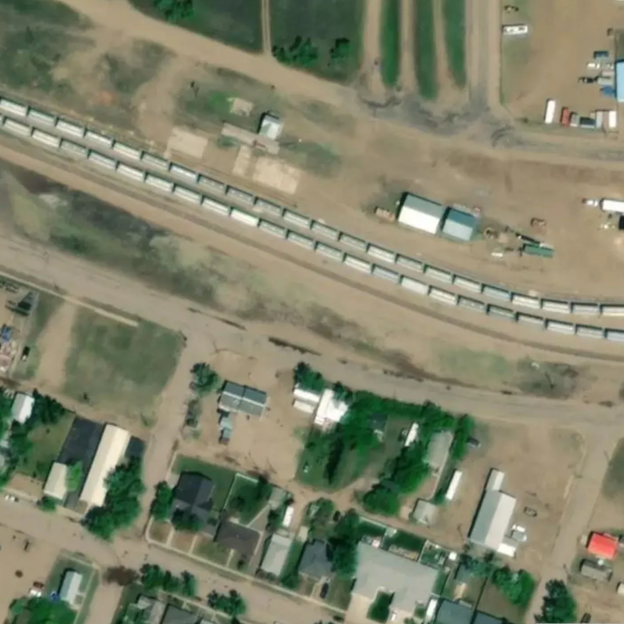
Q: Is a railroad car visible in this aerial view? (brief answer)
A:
Yes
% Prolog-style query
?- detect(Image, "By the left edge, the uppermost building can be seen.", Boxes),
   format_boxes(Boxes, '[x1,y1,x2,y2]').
[11,393,33,422]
